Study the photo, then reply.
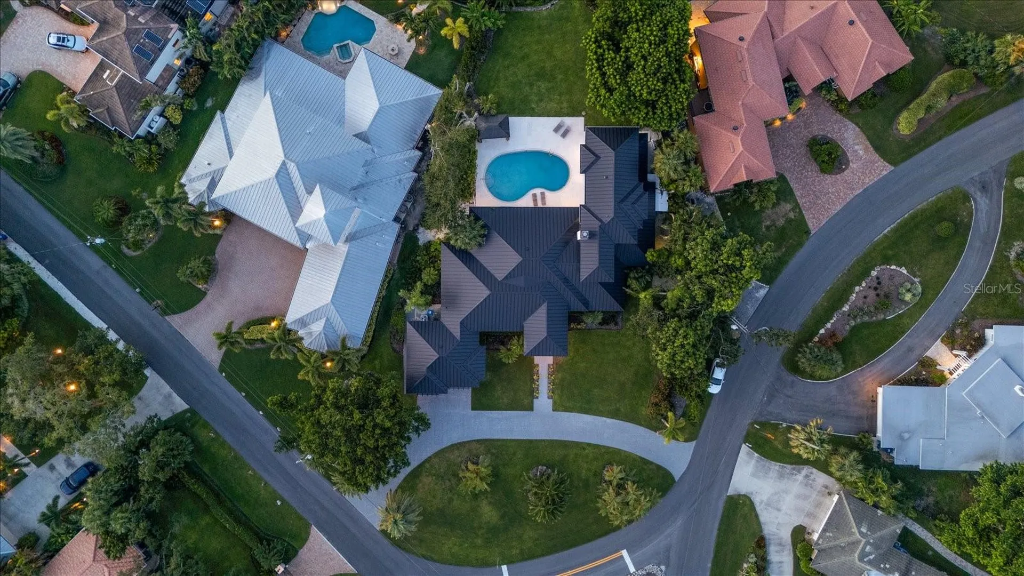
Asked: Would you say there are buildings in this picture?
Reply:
Yes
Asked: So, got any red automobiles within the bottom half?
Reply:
No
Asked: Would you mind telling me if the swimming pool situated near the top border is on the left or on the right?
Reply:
left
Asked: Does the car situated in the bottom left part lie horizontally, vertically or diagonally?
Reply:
diagonally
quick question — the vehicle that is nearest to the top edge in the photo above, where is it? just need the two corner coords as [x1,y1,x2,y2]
[45,32,89,54]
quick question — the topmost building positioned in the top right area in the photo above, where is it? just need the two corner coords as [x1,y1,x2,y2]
[692,0,915,193]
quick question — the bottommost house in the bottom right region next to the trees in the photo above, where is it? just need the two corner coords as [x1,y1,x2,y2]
[806,488,949,576]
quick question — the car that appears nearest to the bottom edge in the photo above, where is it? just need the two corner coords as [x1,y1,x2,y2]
[59,459,99,495]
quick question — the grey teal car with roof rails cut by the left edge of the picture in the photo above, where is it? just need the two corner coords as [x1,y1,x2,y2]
[0,71,25,113]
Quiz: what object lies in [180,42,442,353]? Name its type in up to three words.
house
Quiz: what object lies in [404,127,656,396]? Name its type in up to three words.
house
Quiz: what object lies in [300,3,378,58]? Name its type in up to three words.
swimming pool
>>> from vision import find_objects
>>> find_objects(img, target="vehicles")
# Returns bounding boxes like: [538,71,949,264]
[0,71,25,113]
[706,357,728,394]
[45,32,89,54]
[59,459,99,495]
